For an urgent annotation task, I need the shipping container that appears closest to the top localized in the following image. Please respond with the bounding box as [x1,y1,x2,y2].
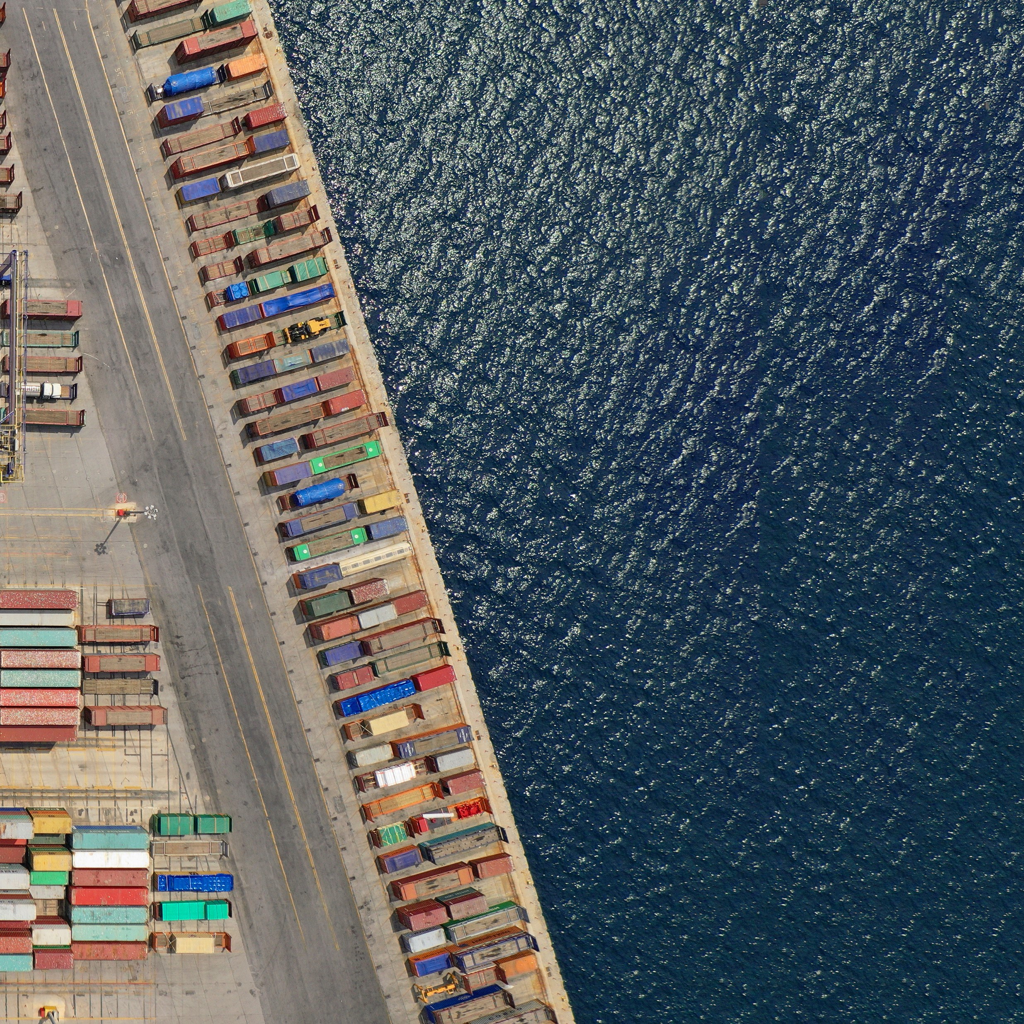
[208,0,253,27]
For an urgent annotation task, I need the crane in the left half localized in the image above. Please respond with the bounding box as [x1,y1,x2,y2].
[0,250,29,483]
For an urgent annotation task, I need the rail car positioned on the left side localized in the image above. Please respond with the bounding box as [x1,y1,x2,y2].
[333,541,413,576]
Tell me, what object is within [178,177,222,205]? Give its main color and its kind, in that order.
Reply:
blue shipping container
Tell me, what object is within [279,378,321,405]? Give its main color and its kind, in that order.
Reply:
blue shipping container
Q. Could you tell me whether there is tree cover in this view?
No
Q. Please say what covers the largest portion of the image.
water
